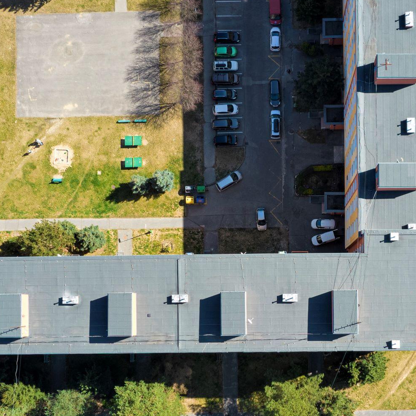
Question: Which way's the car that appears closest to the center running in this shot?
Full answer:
In this picture, the car that appears closest to the center is oriented diagonally.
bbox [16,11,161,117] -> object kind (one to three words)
sports court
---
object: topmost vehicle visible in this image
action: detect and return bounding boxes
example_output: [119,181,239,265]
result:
[268,0,282,26]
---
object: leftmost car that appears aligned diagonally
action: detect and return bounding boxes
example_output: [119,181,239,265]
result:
[215,170,242,193]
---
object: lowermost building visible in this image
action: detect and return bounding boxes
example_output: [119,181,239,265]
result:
[0,229,416,354]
